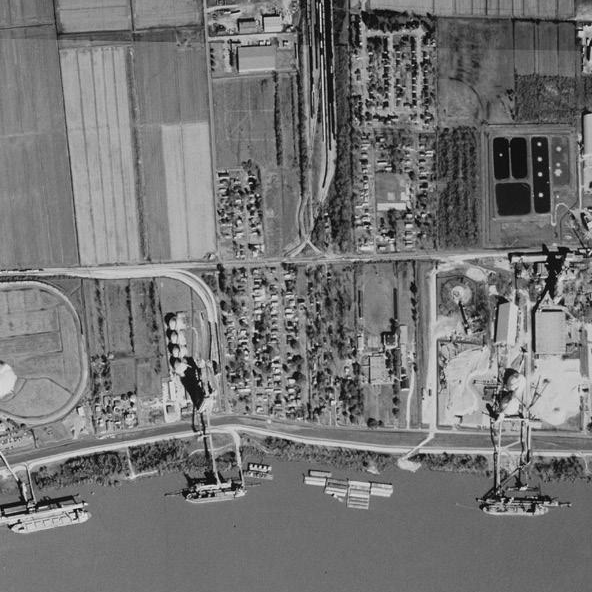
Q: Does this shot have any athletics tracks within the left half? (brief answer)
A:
No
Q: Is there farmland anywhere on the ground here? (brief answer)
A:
Yes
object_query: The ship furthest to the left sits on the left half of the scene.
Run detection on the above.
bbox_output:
[12,506,92,531]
